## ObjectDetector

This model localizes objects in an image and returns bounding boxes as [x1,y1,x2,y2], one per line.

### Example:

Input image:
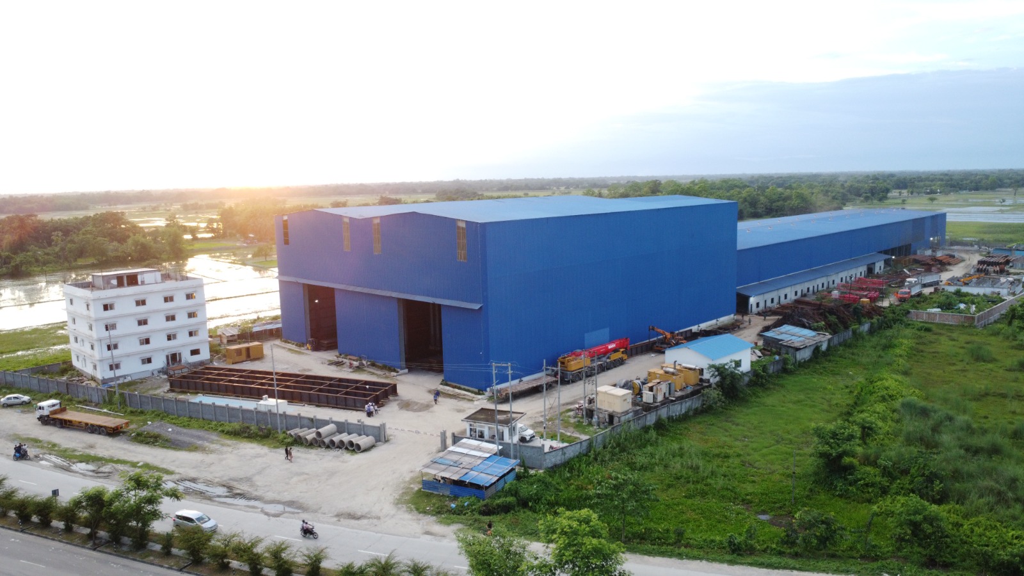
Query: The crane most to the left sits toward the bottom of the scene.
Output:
[549,334,633,384]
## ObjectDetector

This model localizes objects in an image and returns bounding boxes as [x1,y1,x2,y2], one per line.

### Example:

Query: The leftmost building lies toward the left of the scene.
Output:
[63,263,210,379]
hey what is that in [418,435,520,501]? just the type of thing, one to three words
shed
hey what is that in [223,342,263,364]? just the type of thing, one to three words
building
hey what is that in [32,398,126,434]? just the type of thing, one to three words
truck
